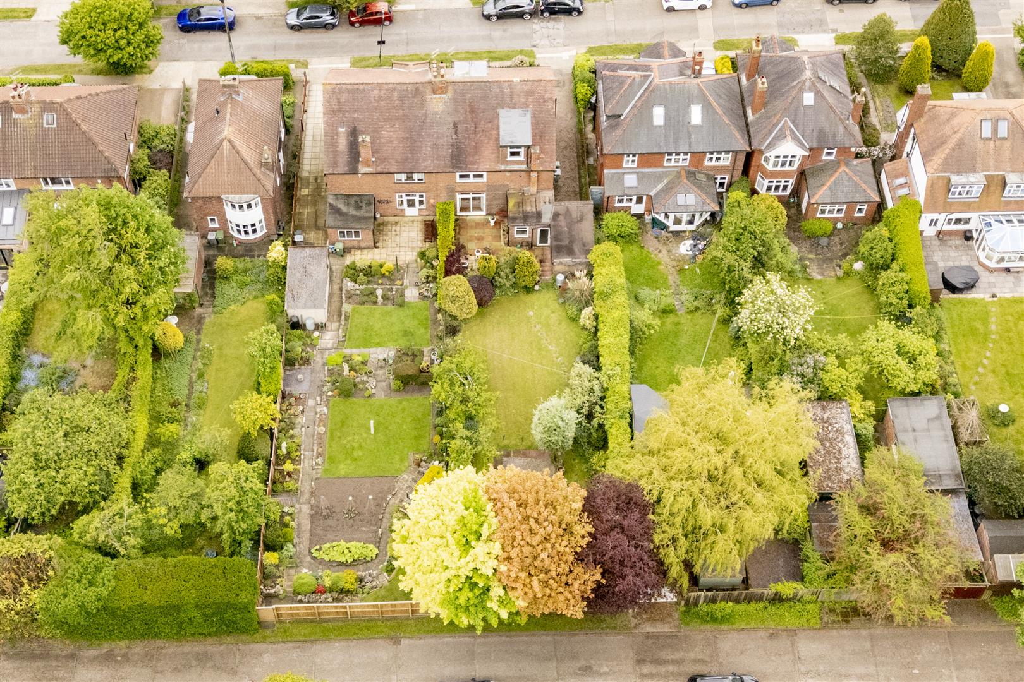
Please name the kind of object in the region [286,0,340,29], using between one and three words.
car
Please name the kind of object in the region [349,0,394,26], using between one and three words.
car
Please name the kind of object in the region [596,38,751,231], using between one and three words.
house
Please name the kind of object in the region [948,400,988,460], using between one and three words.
gazebo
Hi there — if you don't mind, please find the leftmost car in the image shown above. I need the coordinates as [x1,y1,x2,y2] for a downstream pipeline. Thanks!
[177,2,237,31]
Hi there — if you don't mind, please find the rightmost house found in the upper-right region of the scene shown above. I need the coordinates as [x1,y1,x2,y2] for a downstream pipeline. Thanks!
[880,84,1024,268]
